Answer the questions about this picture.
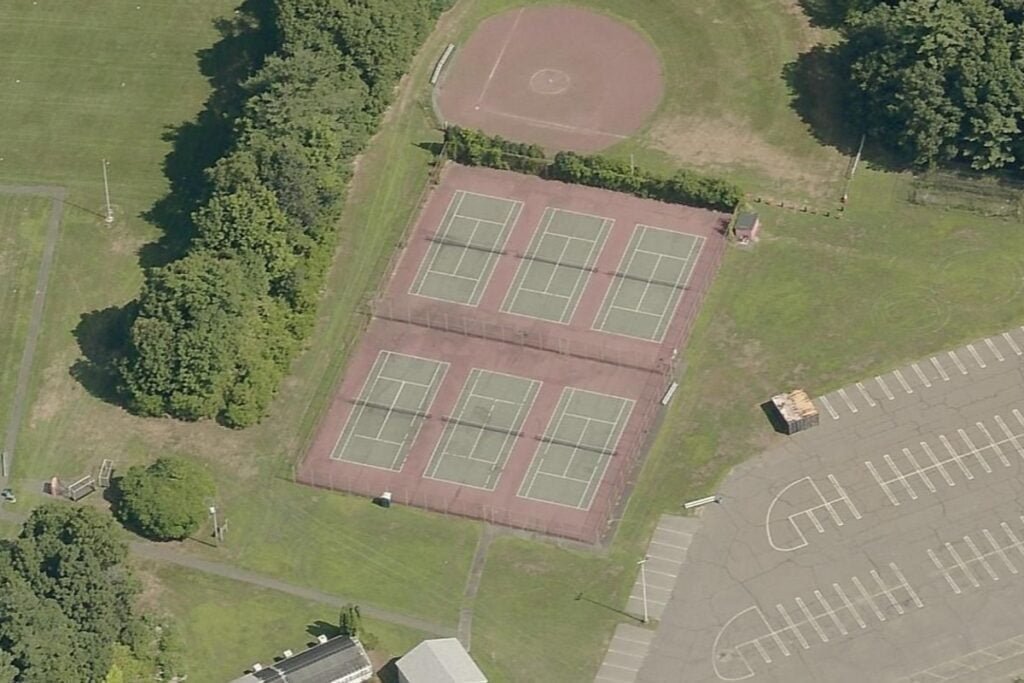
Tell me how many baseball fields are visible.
one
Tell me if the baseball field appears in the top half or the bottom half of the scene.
top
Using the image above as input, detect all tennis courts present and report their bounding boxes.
[592,224,706,341]
[517,387,635,509]
[330,350,450,471]
[408,190,523,306]
[500,207,615,323]
[423,368,542,490]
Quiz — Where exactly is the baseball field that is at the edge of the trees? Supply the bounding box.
[431,4,665,157]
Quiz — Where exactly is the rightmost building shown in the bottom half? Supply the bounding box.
[395,637,489,683]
